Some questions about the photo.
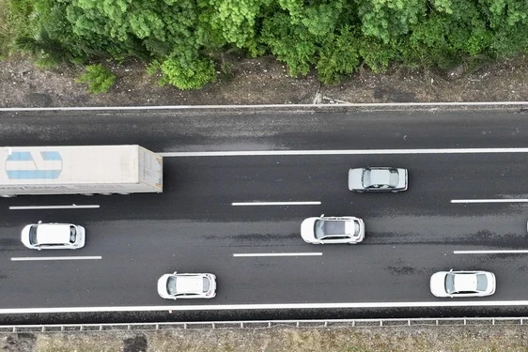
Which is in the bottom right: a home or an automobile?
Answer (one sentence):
Looking in the bottom right, you will find an automobile.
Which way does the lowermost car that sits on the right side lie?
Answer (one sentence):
In this picture, the lowermost car that sits on the right side lies from left to right.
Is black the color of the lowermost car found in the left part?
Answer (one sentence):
No, from above the lowermost car found in the left part looks white.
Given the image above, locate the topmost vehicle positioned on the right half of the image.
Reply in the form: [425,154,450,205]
[347,163,409,194]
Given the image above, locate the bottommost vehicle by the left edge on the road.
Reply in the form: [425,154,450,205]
[20,219,89,250]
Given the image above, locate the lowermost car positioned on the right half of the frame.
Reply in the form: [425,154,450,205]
[429,268,496,299]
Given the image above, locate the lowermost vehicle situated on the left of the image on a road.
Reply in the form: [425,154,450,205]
[157,270,219,300]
